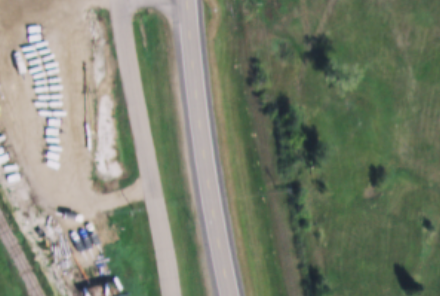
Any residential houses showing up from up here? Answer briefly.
No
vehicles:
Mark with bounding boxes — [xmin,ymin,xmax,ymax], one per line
[36,226,46,236]
[78,227,93,248]
[70,230,85,250]
[56,208,80,220]
[86,221,101,242]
